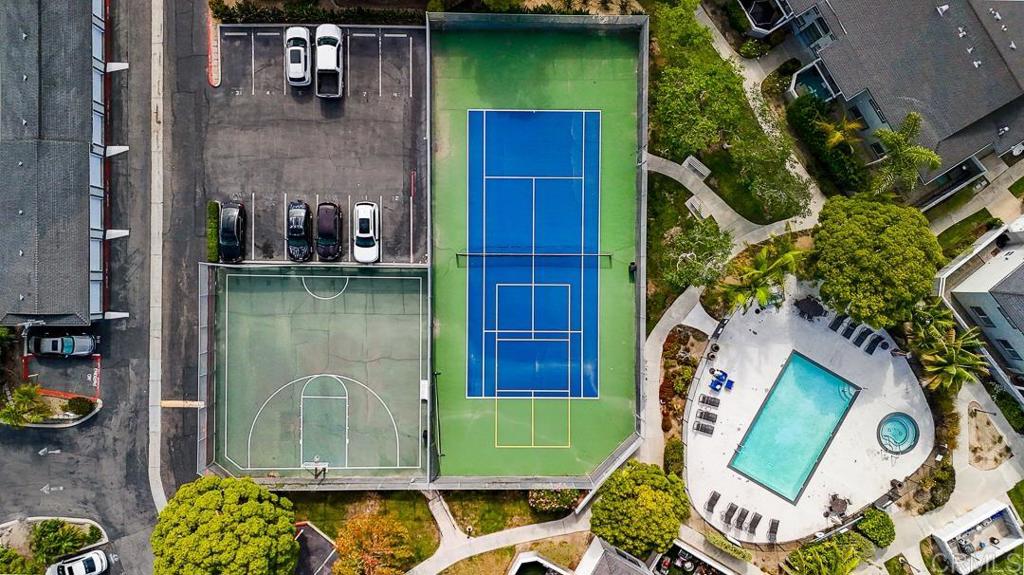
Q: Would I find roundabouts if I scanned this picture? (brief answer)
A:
No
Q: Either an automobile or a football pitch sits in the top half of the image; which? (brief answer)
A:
automobile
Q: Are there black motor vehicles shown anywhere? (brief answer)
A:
Yes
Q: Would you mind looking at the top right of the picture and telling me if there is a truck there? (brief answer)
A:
No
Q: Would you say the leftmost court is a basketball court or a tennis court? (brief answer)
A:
basketball court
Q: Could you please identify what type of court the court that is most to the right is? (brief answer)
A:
tennis court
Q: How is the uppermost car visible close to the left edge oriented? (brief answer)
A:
from side to side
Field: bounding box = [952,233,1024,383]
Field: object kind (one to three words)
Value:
building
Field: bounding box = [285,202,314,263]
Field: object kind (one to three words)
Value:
car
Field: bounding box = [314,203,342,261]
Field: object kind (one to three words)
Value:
car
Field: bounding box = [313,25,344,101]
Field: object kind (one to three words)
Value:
truck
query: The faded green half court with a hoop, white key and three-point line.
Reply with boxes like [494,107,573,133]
[216,266,426,477]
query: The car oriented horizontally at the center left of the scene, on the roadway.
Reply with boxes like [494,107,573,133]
[31,332,97,359]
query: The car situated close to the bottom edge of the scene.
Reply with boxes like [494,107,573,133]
[47,546,109,575]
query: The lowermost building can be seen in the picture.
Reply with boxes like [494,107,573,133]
[575,537,651,575]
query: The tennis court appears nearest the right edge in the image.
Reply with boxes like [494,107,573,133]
[430,29,639,477]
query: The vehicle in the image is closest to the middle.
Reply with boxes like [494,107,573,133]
[351,202,380,264]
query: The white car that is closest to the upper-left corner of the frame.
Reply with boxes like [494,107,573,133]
[282,28,313,88]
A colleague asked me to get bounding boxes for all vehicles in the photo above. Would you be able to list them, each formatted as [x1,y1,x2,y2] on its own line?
[217,203,246,263]
[285,202,314,263]
[282,28,313,88]
[313,25,344,101]
[314,203,342,261]
[47,546,109,575]
[31,332,97,359]
[351,202,380,264]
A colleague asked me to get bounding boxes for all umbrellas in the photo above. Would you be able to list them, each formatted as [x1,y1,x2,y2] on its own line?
[748,0,777,25]
[796,294,823,320]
